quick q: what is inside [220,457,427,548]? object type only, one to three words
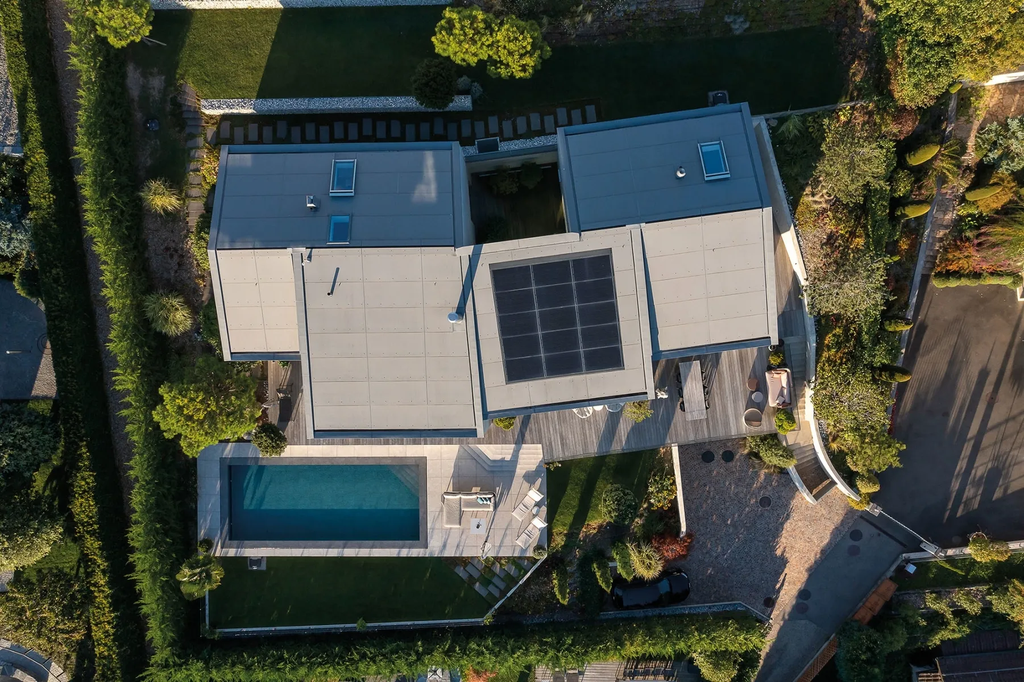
swimming pool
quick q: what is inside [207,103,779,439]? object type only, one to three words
house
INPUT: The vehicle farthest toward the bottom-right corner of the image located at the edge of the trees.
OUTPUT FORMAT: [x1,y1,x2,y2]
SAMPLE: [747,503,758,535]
[615,574,692,615]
